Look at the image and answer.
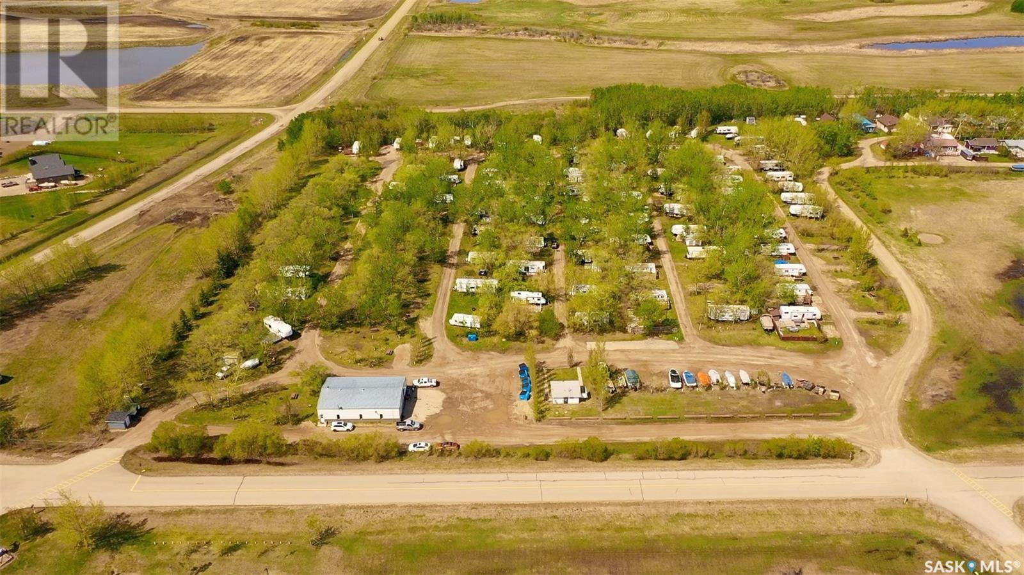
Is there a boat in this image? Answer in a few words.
Yes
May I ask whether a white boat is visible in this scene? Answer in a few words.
Yes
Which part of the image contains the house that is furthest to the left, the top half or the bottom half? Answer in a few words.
top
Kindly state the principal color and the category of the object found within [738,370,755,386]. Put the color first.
white boat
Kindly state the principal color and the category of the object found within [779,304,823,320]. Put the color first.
white vehicle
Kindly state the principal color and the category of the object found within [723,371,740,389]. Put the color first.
white boat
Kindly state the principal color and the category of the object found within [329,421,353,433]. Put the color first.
white vehicle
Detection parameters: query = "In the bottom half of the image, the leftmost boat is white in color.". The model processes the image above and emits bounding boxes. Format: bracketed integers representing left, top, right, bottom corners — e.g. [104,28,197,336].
[235,360,264,372]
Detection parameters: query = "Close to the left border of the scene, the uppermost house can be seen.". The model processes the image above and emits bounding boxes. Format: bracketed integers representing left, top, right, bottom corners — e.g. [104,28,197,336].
[30,156,88,184]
